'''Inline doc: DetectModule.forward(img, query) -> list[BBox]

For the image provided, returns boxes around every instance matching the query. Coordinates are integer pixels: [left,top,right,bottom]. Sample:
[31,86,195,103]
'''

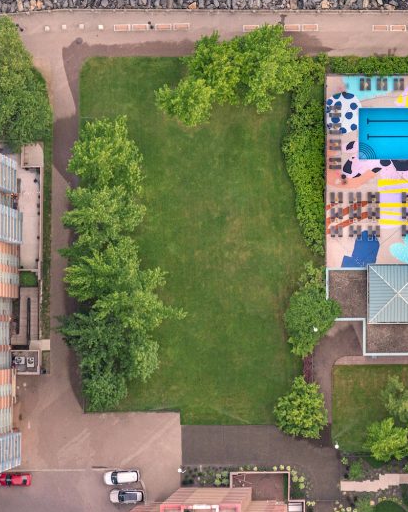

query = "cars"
[104,470,138,486]
[0,473,31,487]
[110,489,143,504]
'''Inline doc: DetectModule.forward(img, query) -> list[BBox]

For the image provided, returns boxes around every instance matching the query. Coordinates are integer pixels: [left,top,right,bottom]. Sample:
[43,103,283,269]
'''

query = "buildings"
[128,488,288,512]
[0,154,25,478]
[327,264,408,355]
